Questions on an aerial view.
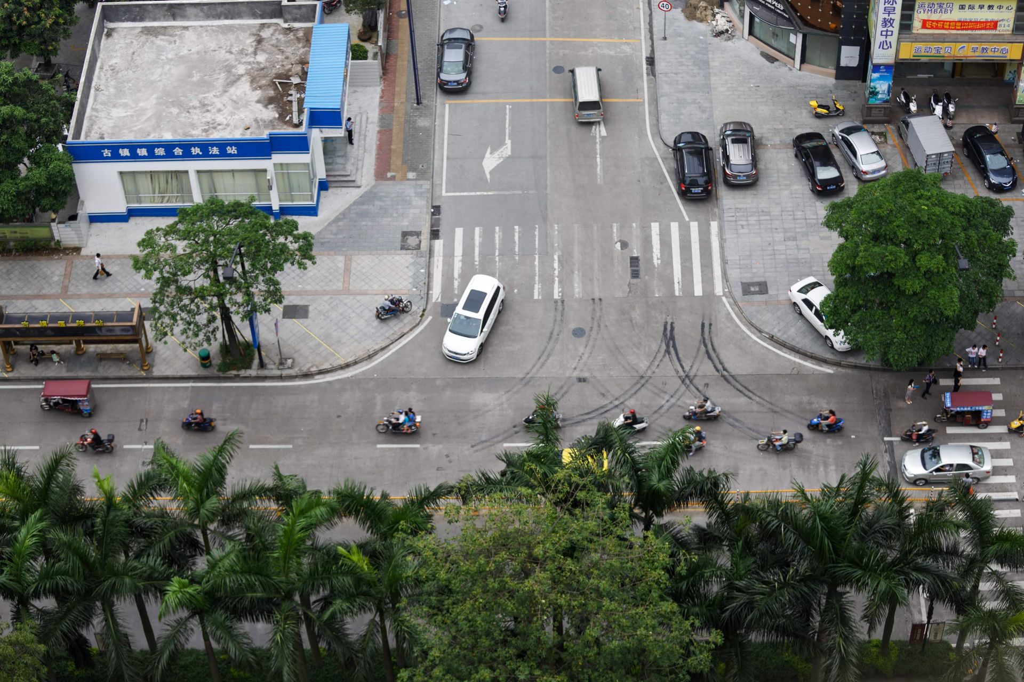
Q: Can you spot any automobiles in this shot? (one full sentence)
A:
Yes, there's an automobile here.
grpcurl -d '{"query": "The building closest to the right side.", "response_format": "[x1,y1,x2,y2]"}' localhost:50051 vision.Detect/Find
[895,0,1024,83]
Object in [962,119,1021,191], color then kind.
black car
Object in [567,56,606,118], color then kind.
white van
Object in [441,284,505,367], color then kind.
white car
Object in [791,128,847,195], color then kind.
black car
